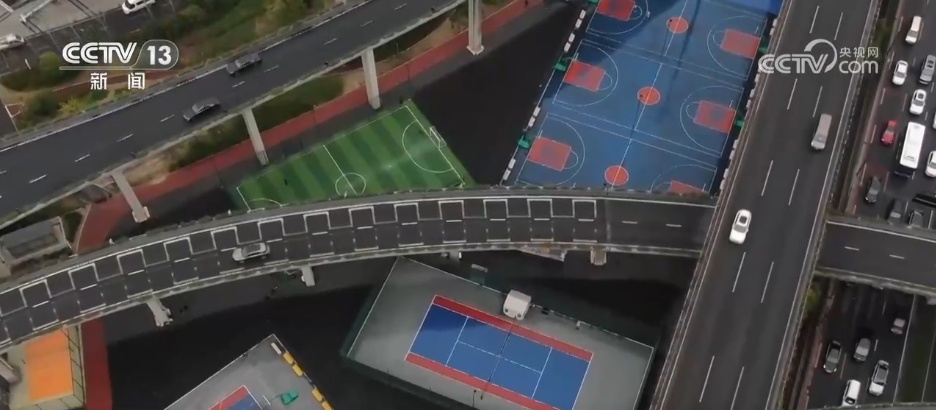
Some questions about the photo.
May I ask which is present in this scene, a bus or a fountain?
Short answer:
bus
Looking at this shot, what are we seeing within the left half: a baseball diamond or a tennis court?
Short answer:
tennis court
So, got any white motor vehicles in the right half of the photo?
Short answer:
Yes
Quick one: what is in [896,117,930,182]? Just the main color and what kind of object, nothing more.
white bus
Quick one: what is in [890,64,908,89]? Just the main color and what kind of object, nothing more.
white car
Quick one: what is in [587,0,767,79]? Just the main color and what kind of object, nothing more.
blue basketball court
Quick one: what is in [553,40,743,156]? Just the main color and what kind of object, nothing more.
blue basketball court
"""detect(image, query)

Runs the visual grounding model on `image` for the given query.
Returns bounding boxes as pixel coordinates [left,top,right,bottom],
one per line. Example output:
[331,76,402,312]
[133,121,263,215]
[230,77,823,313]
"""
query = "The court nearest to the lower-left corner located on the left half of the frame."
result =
[0,327,82,410]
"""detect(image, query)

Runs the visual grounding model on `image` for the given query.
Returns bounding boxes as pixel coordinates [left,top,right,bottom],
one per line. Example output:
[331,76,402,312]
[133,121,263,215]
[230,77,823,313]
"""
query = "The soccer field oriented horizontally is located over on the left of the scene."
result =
[226,99,477,211]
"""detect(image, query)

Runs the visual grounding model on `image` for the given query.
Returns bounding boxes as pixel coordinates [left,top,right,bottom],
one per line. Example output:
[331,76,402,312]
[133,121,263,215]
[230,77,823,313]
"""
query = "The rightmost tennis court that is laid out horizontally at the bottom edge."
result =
[344,257,652,410]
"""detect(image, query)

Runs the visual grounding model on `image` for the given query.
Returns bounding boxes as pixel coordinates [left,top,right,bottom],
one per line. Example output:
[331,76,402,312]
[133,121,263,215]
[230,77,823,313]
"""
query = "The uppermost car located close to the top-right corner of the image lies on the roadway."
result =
[905,21,922,46]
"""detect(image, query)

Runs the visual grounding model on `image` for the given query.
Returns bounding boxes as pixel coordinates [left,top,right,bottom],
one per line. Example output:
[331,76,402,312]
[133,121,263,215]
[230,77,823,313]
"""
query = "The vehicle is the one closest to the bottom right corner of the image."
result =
[867,362,888,399]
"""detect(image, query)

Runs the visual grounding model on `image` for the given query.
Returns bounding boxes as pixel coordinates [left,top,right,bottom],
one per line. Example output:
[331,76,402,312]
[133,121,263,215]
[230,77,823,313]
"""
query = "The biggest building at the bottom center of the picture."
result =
[503,289,532,318]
